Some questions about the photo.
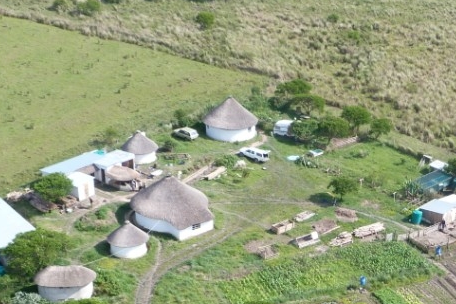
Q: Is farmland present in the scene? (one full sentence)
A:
Yes, farmland can be seen from above here.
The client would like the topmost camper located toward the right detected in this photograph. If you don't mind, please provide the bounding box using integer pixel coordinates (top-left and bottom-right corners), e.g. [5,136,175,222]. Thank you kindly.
[271,120,297,139]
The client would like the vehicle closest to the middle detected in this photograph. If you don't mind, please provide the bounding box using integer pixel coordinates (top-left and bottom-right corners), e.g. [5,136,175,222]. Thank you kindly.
[238,144,271,163]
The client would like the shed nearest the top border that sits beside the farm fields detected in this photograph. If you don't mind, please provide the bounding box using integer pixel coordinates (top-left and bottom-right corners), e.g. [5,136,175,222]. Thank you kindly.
[202,95,259,143]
